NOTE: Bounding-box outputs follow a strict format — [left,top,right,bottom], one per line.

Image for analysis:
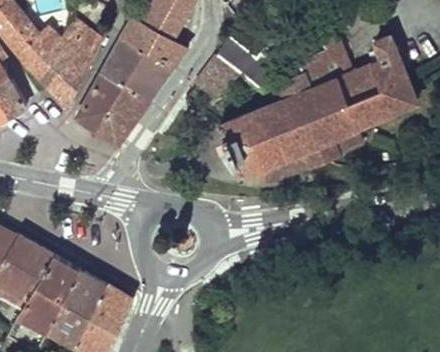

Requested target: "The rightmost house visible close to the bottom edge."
[78,286,134,352]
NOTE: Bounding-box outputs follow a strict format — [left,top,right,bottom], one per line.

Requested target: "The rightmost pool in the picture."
[32,0,69,26]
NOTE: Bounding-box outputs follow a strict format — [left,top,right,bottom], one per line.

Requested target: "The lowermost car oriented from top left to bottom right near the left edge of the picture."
[8,120,30,138]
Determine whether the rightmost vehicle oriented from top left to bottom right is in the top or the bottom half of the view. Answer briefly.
top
